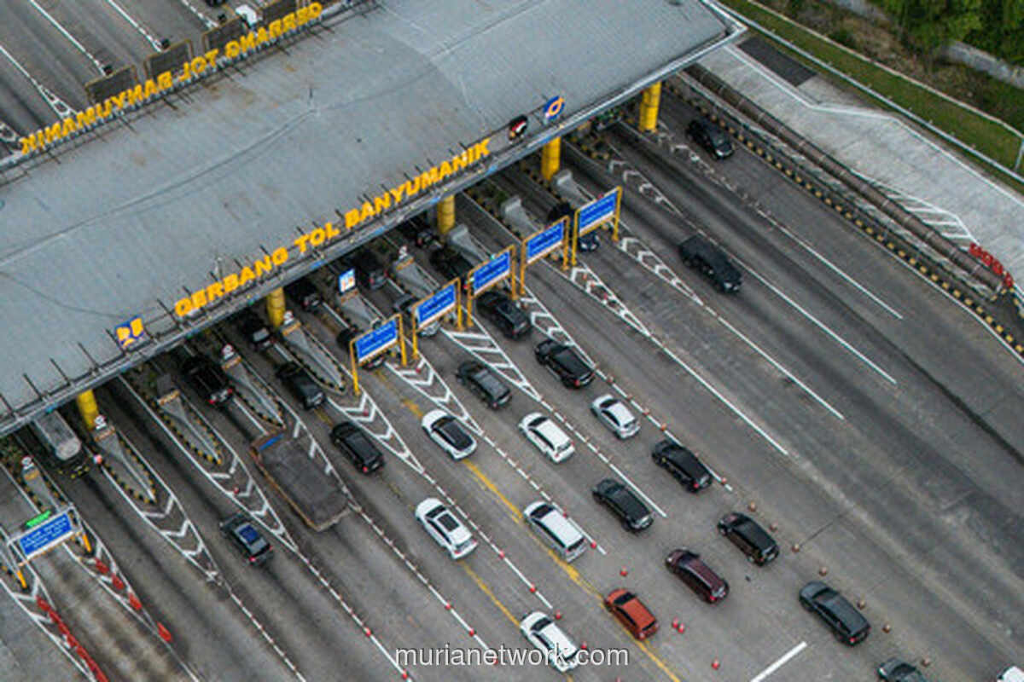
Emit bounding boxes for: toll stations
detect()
[0,0,745,441]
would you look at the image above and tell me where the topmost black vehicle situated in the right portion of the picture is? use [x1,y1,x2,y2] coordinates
[685,115,733,157]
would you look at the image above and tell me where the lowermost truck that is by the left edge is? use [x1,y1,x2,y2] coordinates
[30,413,94,481]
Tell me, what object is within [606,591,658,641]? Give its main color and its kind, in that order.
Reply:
red car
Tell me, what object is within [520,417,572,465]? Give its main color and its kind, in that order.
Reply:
white car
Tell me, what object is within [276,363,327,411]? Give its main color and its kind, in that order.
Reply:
black car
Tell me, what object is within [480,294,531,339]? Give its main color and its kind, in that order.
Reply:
black car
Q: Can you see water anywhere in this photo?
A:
No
